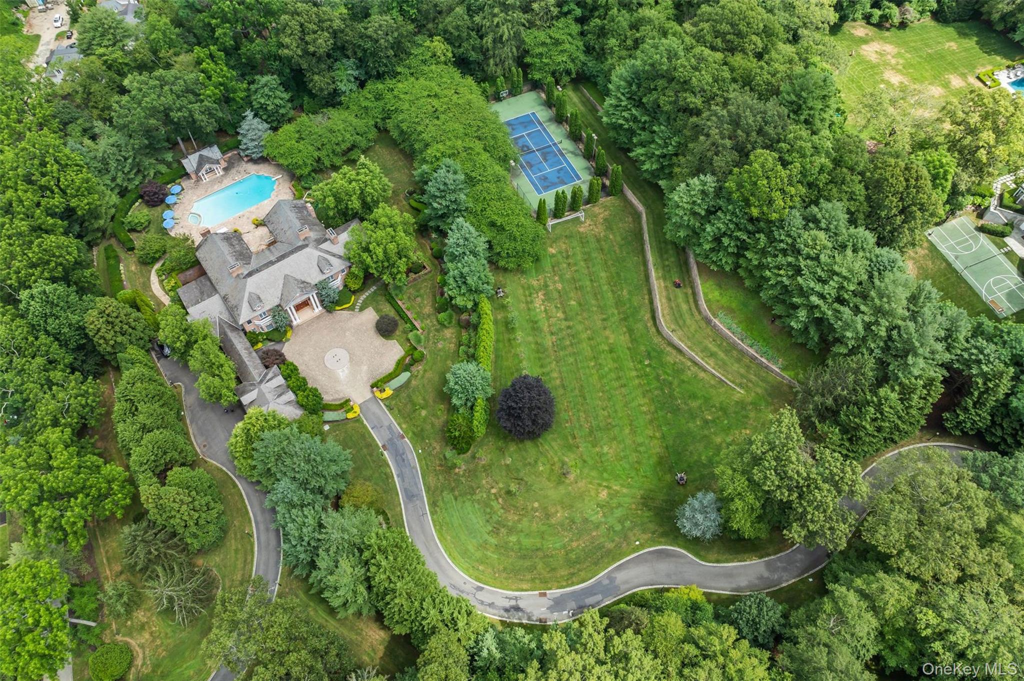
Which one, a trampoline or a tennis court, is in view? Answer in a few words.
tennis court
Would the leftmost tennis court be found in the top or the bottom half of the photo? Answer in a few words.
top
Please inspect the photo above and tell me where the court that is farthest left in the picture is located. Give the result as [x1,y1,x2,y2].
[474,90,611,219]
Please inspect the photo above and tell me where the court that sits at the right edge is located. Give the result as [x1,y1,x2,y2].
[926,221,1024,319]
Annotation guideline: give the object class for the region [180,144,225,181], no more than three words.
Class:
building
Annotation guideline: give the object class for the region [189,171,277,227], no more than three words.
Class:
swimming pool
